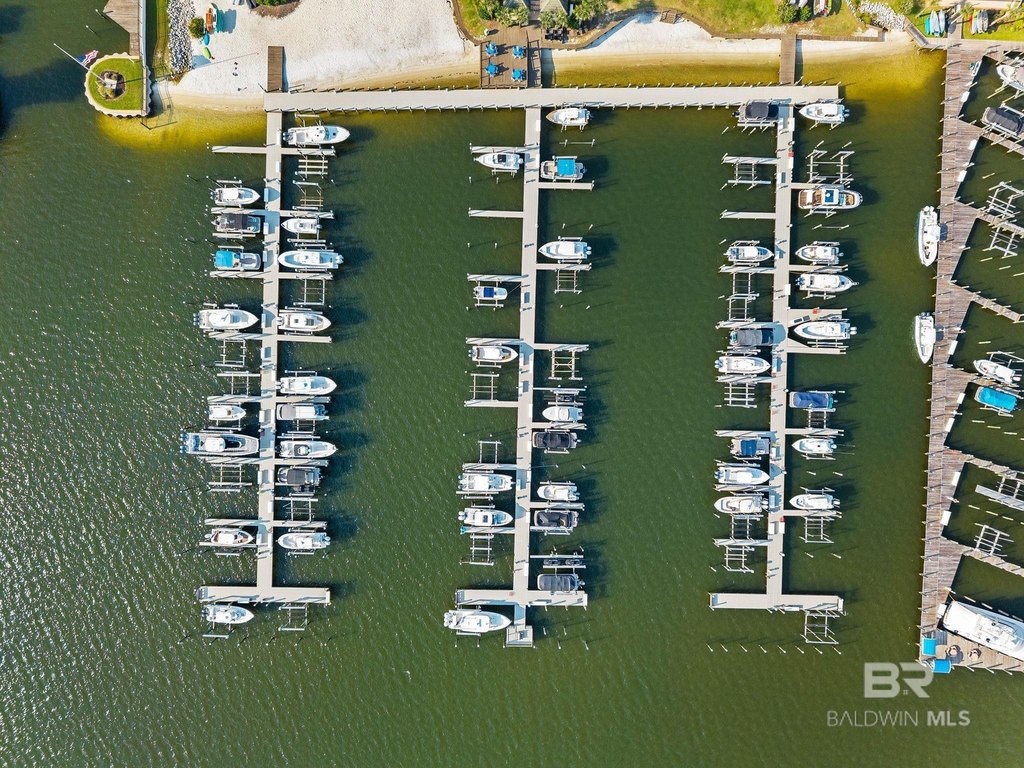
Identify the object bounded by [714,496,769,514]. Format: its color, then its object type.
white boat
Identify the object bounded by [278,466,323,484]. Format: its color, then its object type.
gray boat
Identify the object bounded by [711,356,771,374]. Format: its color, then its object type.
white boat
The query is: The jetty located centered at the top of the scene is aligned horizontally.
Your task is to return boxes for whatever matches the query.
[264,82,838,115]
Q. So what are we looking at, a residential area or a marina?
marina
